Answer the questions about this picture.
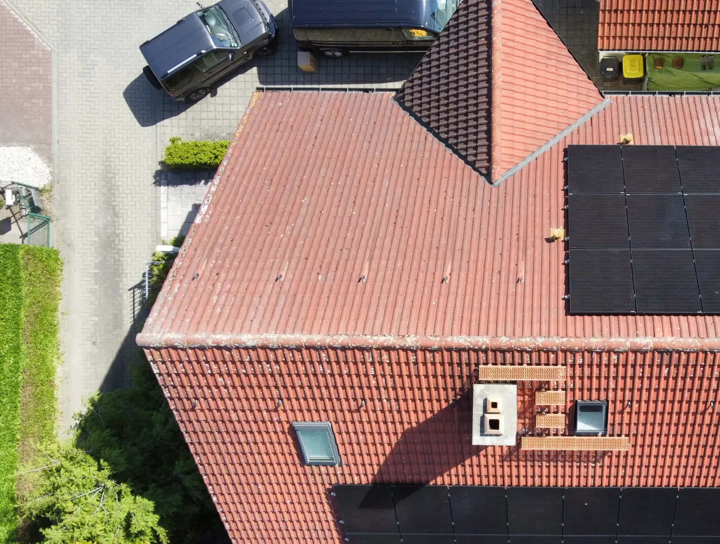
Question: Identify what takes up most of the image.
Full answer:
Most of the picture is covered by buildings.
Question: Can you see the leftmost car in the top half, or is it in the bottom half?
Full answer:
You can find the leftmost car in the top half.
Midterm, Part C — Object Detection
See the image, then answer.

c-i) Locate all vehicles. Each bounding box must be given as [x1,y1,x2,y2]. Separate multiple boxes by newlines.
[136,0,284,105]
[288,0,456,57]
